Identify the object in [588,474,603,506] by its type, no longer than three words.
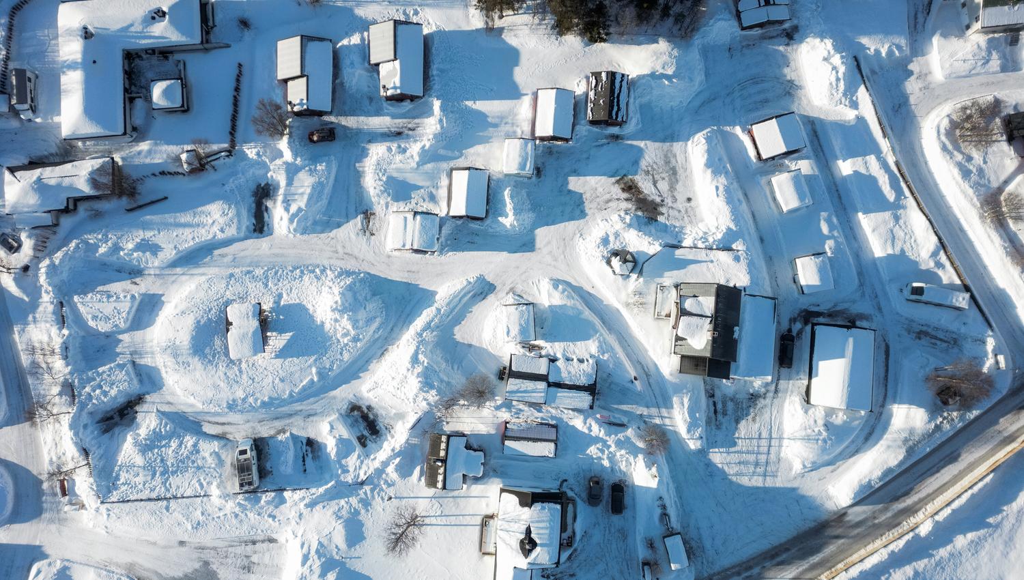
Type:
car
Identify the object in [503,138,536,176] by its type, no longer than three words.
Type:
shed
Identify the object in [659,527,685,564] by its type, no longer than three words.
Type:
trailer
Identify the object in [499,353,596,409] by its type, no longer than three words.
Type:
house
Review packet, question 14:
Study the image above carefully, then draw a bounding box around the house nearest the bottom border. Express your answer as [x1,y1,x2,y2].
[481,479,576,580]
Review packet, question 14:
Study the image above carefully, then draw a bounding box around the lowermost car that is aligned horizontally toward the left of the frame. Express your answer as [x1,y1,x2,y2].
[307,128,337,143]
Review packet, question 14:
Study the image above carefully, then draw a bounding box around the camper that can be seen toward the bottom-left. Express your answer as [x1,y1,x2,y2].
[233,432,258,486]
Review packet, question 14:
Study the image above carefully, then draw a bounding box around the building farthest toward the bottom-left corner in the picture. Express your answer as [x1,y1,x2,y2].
[226,302,270,359]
